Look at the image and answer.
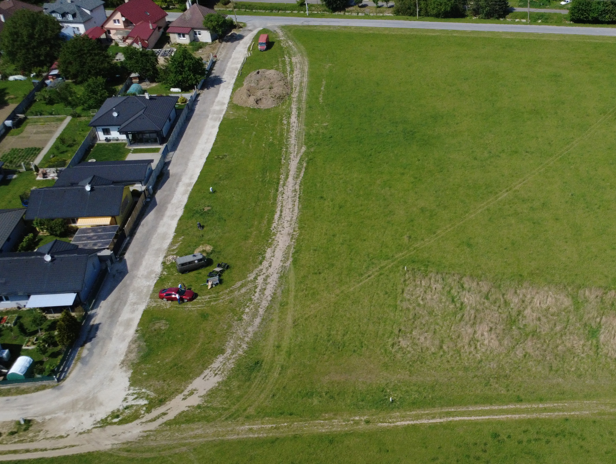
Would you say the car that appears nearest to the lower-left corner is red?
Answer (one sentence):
Yes, the car that appears nearest to the lower-left corner is indeed red.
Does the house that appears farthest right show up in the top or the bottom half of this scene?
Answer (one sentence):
The house that appears farthest right is in the top half of the image.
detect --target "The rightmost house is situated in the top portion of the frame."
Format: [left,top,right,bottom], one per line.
[165,0,232,40]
